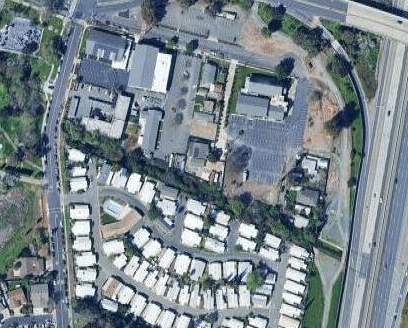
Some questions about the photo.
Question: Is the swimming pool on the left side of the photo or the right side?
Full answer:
The swimming pool appears in the left half of the scene.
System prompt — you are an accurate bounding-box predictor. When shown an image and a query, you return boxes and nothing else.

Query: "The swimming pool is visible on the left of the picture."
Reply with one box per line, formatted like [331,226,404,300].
[103,199,131,220]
